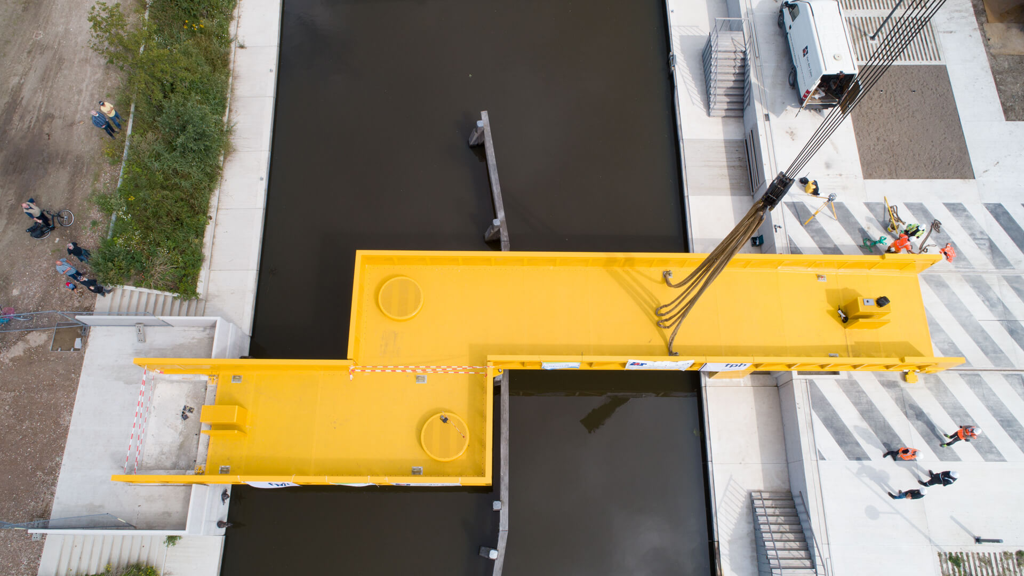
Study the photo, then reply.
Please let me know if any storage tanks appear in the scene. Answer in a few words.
No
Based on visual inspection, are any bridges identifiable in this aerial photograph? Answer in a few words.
Yes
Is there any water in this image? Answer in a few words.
Yes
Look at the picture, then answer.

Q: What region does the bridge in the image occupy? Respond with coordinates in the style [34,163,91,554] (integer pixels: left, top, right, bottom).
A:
[110,251,967,487]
